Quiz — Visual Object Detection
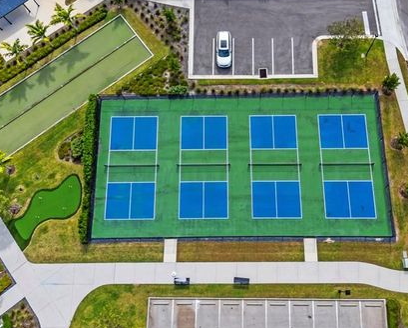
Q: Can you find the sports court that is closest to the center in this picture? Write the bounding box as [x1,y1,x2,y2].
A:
[177,116,228,219]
